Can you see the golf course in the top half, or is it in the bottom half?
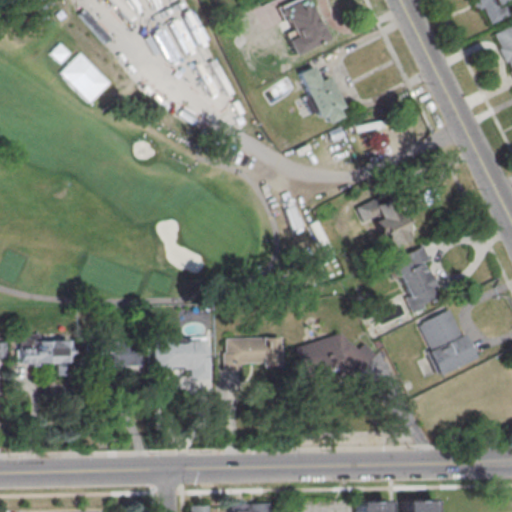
top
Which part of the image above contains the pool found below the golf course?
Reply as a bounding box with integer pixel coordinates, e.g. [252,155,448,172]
[182,320,206,336]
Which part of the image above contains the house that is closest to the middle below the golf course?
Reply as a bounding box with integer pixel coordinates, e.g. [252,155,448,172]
[224,337,284,366]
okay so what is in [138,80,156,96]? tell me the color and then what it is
white vehicle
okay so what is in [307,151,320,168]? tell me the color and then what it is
white vehicle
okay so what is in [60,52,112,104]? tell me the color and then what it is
white tent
